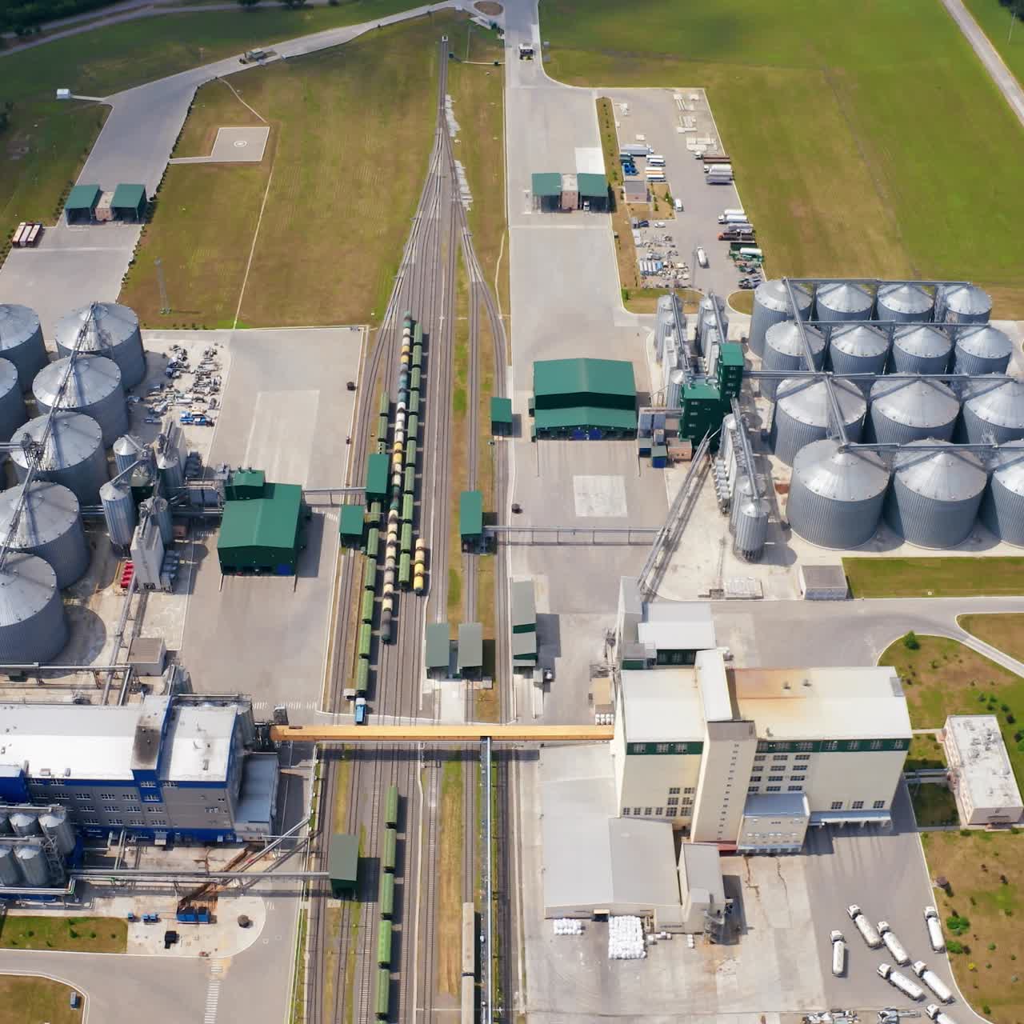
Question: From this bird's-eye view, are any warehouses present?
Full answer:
Yes, the image includes a warehouse.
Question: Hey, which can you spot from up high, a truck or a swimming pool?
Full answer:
I can see a truck in this picture.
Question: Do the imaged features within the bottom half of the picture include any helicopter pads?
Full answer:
No, no helicopter pad appears within the bottom half of the picture.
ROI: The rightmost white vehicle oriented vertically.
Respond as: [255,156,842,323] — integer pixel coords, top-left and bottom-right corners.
[925,905,945,950]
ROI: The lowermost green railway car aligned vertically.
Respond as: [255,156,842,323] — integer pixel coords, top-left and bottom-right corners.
[373,969,389,1021]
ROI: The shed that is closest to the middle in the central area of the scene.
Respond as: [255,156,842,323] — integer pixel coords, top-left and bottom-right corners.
[461,492,482,552]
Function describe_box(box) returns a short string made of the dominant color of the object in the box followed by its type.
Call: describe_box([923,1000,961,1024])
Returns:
white truck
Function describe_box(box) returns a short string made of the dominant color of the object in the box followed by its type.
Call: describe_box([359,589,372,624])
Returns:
green rail car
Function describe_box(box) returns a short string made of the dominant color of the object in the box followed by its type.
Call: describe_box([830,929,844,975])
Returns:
white vehicle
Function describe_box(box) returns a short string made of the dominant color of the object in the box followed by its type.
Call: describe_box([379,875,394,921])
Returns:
green rail car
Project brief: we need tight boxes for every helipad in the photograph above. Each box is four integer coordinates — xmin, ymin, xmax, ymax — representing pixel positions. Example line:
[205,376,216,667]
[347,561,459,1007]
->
[169,126,269,163]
